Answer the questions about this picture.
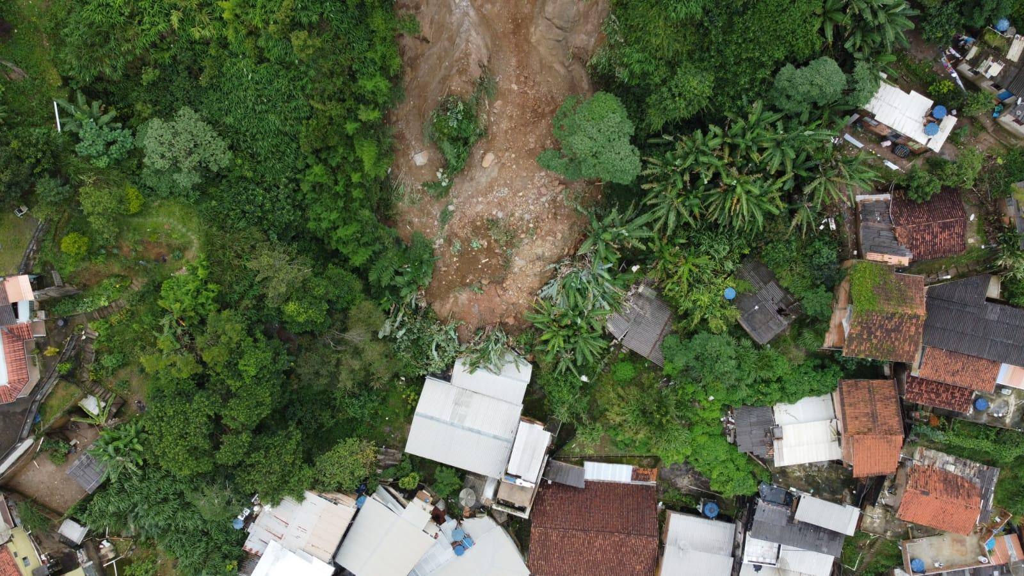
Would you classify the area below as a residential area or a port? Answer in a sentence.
This image shows a residential area.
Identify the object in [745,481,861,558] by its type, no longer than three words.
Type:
house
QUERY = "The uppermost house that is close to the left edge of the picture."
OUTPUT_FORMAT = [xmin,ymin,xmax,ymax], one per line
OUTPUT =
[0,275,62,404]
